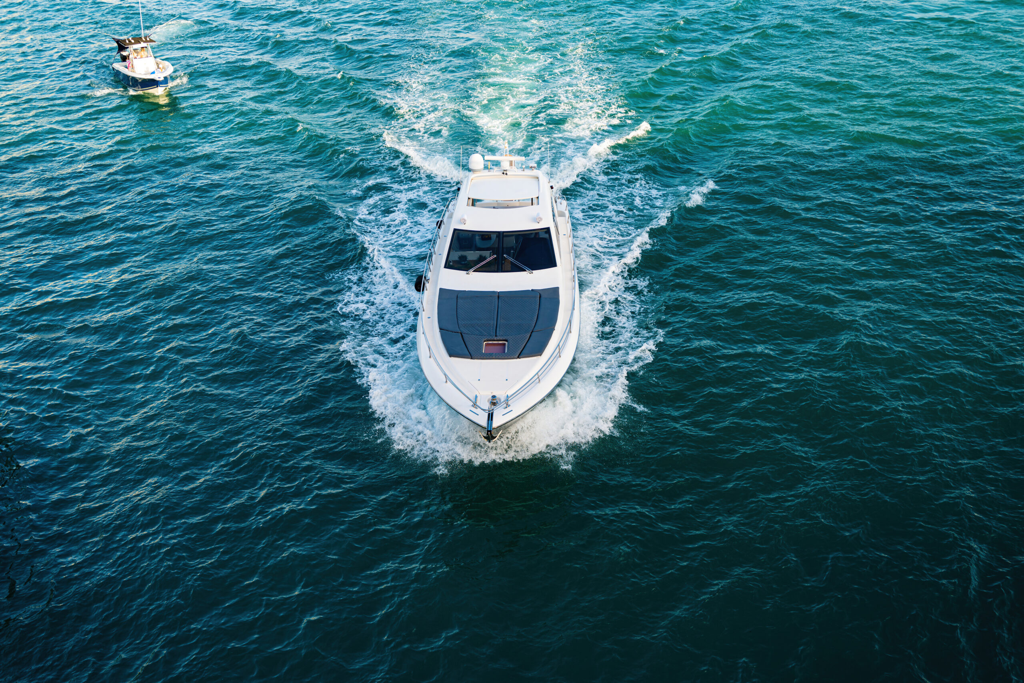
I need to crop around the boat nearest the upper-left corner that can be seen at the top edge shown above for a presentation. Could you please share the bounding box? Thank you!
[56,2,174,95]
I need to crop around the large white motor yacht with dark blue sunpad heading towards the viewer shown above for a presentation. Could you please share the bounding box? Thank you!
[417,135,581,452]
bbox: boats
[56,2,174,95]
[417,135,581,452]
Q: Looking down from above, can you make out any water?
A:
Yes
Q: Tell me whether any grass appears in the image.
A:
No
